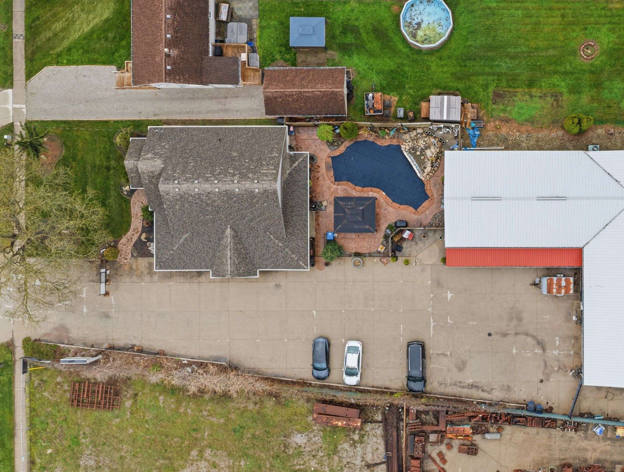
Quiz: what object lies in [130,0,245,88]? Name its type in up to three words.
house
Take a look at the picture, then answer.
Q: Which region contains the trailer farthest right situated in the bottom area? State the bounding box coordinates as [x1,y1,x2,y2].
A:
[530,274,573,296]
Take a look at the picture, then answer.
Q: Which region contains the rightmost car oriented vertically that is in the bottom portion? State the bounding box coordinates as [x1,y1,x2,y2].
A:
[405,341,428,391]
